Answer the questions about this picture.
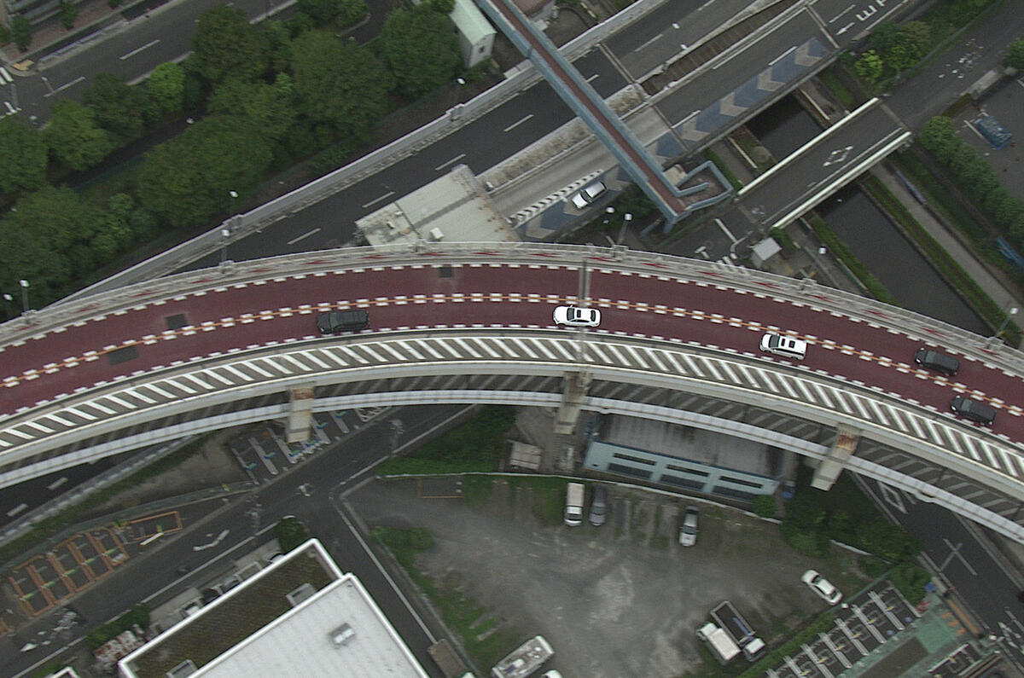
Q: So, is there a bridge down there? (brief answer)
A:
Yes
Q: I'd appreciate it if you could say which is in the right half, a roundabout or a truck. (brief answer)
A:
truck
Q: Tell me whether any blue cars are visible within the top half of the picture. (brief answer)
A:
No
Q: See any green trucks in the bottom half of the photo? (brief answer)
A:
No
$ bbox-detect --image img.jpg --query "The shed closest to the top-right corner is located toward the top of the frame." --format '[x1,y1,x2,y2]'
[751,237,783,269]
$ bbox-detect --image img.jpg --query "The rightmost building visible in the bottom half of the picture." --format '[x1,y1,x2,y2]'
[584,409,783,504]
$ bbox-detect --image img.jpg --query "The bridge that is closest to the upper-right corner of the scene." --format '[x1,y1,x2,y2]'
[738,99,913,234]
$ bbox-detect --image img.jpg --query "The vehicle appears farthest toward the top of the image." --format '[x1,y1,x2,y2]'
[571,177,610,209]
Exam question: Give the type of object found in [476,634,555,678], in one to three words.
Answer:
truck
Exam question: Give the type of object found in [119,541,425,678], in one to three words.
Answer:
building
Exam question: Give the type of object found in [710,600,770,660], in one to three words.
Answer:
truck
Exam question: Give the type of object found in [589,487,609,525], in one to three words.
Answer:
car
